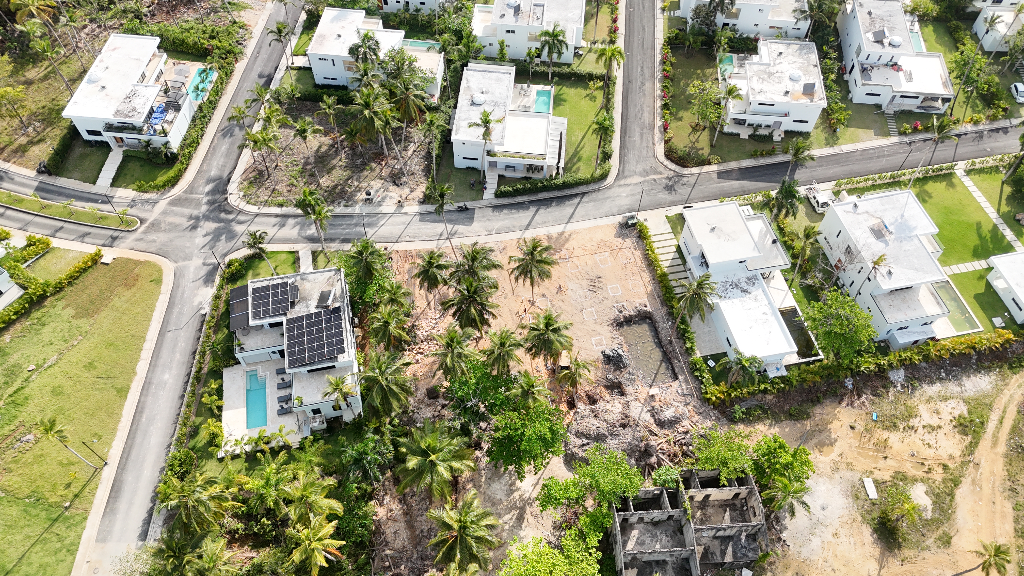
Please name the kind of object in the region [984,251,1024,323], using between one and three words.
building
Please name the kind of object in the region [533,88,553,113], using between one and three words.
swimming pool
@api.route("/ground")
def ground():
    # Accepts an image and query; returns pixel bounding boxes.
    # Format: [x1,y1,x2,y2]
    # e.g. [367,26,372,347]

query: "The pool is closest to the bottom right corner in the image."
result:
[936,264,980,334]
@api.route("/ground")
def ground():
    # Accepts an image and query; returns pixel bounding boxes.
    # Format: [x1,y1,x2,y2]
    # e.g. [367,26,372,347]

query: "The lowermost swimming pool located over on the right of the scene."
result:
[778,304,822,361]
